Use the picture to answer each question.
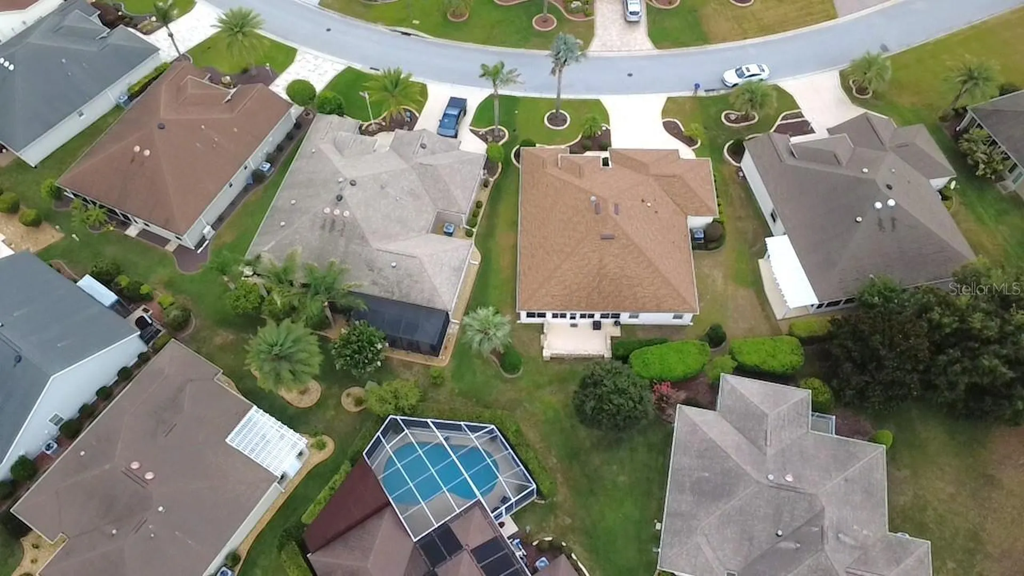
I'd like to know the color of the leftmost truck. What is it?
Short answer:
blue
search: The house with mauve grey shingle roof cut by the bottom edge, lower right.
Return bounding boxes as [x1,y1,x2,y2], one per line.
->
[657,373,933,576]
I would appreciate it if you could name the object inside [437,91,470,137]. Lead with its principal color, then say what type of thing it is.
blue truck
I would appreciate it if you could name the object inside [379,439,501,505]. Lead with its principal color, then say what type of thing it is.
blue swimming pool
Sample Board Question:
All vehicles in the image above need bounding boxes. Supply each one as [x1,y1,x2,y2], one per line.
[437,91,470,137]
[623,0,645,19]
[720,62,773,88]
